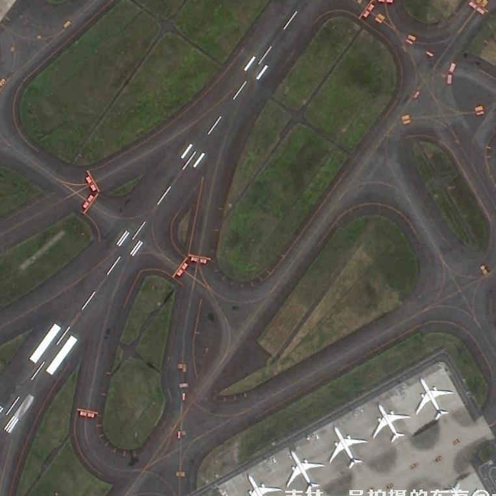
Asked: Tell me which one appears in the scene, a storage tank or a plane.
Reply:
plane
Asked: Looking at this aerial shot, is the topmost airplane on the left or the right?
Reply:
right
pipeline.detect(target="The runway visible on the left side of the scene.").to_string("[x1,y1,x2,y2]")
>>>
[0,0,311,433]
